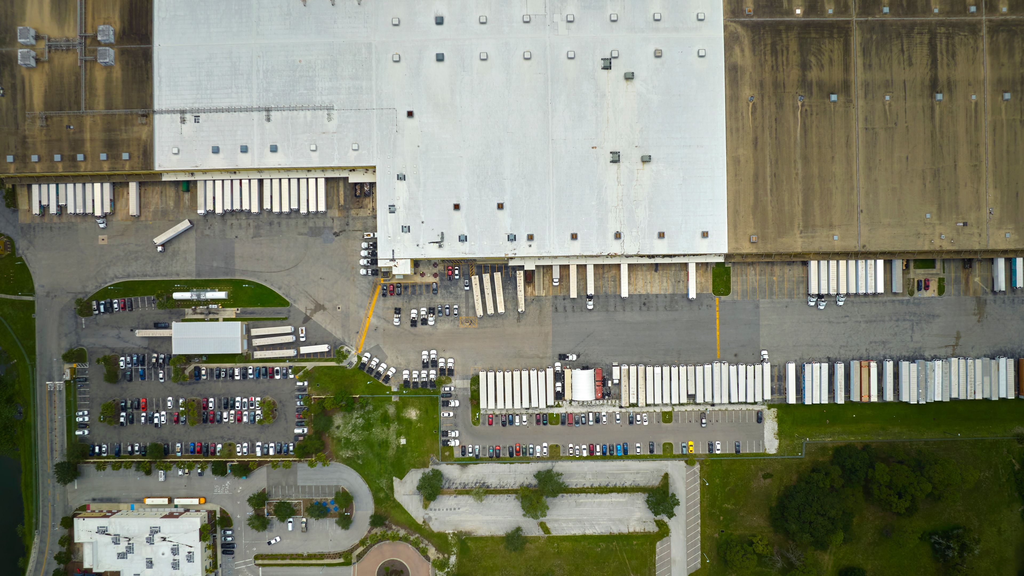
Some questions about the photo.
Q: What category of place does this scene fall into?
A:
industrial area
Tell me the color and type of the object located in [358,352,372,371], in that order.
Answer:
white vehicle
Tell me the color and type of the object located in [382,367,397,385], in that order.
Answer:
white vehicle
